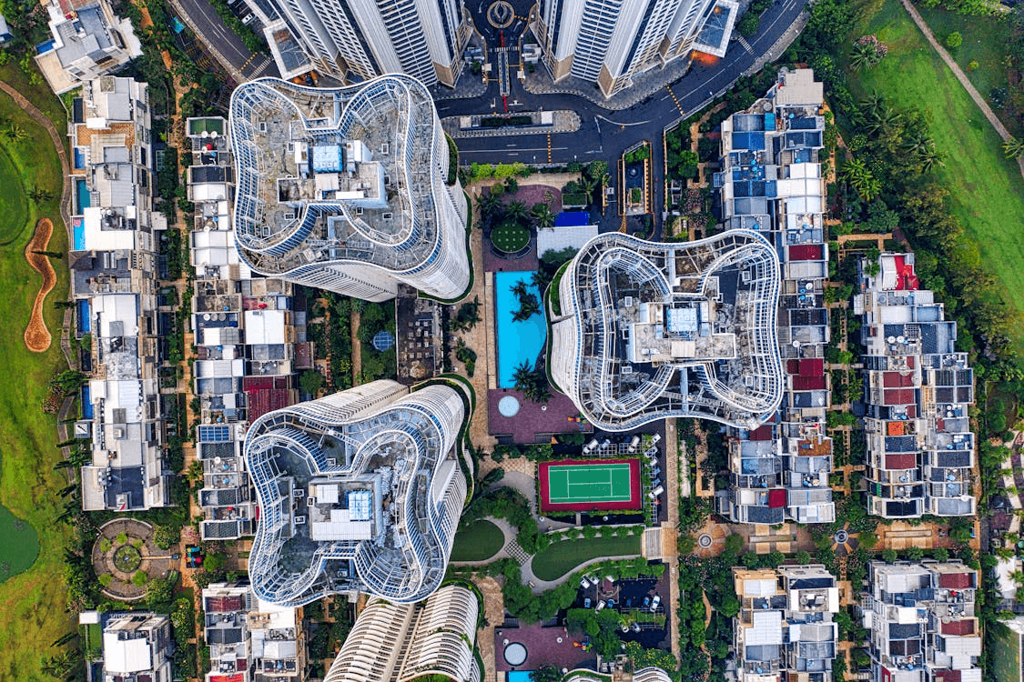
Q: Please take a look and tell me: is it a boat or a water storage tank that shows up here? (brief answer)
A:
water storage tank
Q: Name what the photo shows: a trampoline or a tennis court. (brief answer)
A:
tennis court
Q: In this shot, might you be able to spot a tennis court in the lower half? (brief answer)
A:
Yes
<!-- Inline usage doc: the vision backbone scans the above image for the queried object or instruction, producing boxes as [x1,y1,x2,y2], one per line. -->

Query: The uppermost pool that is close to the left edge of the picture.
[36,38,58,55]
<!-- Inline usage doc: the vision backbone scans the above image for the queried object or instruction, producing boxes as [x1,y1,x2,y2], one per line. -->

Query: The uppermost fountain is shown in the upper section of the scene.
[487,0,514,28]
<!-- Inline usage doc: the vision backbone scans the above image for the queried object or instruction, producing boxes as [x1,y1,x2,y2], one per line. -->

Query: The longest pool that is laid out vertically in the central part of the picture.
[496,271,546,387]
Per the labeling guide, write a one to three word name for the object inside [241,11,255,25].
car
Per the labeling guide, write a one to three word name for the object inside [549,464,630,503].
tennis court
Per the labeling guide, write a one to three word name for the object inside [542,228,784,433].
building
